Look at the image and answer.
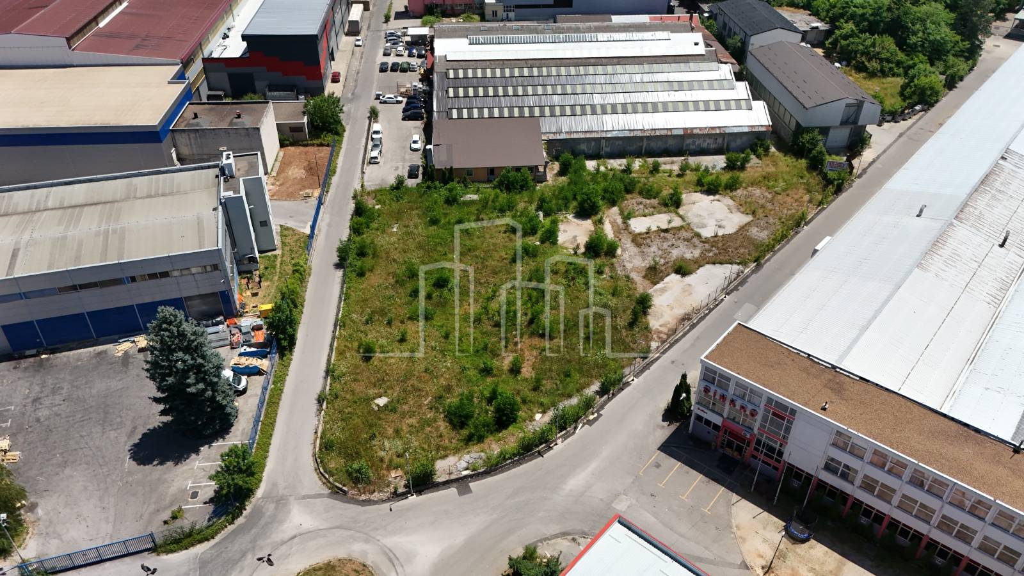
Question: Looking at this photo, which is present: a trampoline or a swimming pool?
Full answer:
Of the two, only a trampoline appears.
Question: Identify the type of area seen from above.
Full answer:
It's an industrial area.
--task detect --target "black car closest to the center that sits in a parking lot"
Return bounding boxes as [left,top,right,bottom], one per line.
[406,164,420,178]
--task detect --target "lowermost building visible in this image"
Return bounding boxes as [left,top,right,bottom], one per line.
[565,515,716,576]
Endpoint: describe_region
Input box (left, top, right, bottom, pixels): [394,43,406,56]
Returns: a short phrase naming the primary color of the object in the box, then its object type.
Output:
white vehicle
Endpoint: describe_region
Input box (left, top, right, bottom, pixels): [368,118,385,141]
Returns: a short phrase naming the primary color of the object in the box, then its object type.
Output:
white vehicle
